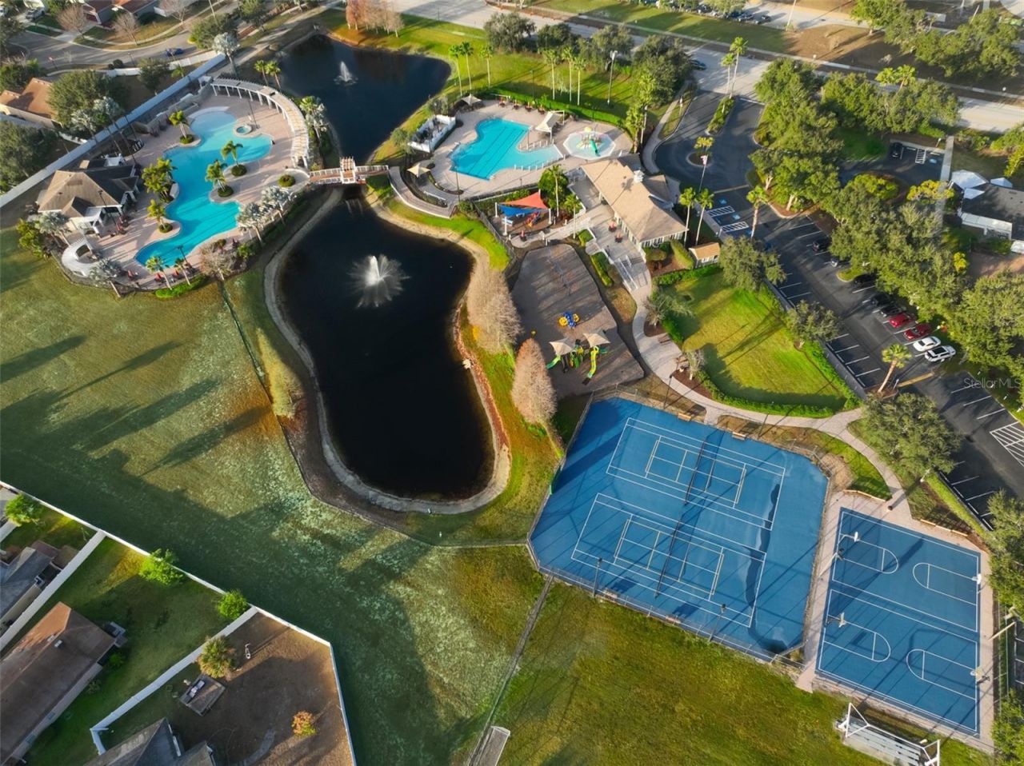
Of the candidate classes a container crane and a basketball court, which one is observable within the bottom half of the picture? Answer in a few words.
basketball court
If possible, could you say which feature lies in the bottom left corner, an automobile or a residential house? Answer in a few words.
residential house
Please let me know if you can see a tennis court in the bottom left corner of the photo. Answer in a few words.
No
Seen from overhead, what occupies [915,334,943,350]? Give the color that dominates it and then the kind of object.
white car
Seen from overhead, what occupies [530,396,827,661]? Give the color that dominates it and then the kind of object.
blue tennis court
